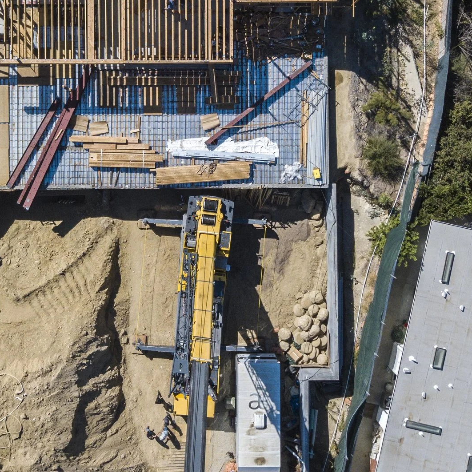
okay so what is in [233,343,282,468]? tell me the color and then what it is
white trailer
